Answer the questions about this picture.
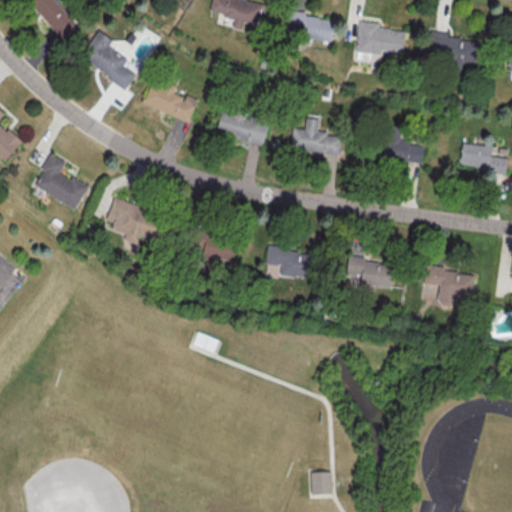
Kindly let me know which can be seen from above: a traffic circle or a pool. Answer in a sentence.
It is a pool that can be seen here.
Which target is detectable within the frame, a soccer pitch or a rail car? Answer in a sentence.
The image shows a soccer pitch.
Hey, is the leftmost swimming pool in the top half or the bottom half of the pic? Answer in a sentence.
You can find the leftmost swimming pool in the top half.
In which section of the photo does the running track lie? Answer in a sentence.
The running track is located in the bottom right region of the scene.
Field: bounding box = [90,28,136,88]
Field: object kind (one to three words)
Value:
house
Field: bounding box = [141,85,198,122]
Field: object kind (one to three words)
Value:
house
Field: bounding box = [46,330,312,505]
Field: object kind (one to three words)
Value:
soccer field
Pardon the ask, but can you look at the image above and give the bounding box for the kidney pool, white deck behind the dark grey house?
[111,28,162,76]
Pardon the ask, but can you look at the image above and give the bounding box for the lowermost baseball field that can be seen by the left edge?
[25,458,130,512]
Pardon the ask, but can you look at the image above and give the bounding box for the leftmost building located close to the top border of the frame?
[32,0,70,33]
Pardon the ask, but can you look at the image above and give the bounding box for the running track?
[422,400,512,512]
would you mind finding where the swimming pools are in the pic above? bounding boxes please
[111,28,162,76]
[493,308,512,341]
